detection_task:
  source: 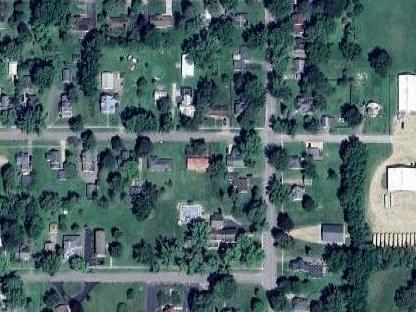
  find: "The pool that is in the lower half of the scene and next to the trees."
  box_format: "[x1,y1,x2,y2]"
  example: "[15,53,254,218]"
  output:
[178,201,201,221]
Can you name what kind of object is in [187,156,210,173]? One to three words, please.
house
